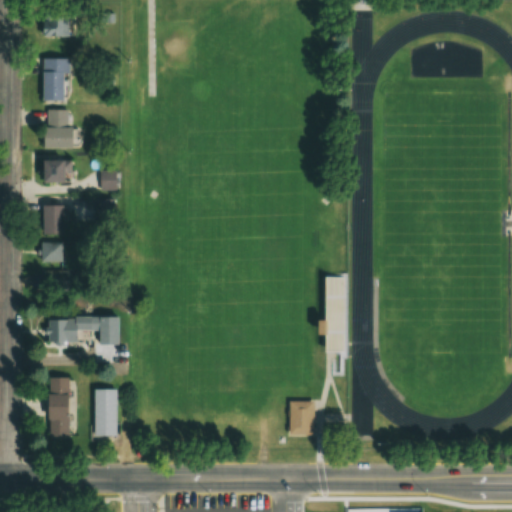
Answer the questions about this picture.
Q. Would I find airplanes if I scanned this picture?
No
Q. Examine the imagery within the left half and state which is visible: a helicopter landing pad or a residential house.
residential house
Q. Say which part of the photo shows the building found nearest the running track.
bottom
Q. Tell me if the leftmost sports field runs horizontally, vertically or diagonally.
vertically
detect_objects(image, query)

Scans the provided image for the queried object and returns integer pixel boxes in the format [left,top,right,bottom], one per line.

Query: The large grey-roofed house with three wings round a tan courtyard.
[48,316,120,345]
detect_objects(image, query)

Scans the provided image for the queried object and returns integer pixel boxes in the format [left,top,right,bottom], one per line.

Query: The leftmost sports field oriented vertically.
[187,108,304,394]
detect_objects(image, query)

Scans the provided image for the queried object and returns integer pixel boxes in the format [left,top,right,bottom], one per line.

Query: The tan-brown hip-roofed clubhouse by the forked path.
[290,401,316,438]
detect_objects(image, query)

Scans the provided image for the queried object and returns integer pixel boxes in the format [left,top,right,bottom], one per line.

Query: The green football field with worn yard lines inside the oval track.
[384,90,501,355]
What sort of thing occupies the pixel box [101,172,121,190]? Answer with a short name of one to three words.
building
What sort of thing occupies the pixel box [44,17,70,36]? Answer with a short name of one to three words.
house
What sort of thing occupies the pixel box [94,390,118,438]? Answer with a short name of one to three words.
barn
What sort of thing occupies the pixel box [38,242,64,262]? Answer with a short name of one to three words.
house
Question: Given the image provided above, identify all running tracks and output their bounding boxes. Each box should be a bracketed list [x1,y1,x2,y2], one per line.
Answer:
[352,12,512,438]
